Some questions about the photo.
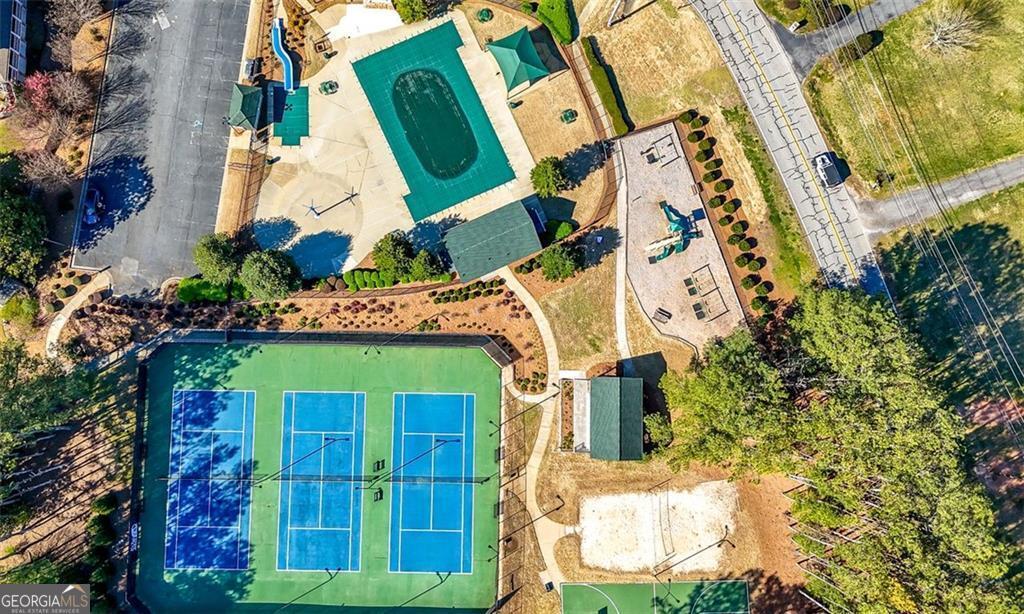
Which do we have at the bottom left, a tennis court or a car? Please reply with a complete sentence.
There is a tennis court at the bottom left.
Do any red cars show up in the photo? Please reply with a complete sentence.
No, the photo shows no red car.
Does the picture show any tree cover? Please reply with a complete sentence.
Yes, the picture does contain tree cover.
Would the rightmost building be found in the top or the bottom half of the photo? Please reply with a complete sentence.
The rightmost building is in the bottom half of the image.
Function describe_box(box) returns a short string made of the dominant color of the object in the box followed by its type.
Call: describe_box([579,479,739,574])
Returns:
white sports court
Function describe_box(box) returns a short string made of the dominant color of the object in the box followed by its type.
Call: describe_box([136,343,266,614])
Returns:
blue tennis court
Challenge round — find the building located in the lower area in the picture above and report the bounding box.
[590,377,642,462]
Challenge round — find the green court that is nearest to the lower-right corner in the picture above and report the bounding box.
[562,580,750,614]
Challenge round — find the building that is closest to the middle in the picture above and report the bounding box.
[445,200,542,282]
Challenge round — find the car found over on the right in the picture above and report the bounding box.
[816,152,844,187]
